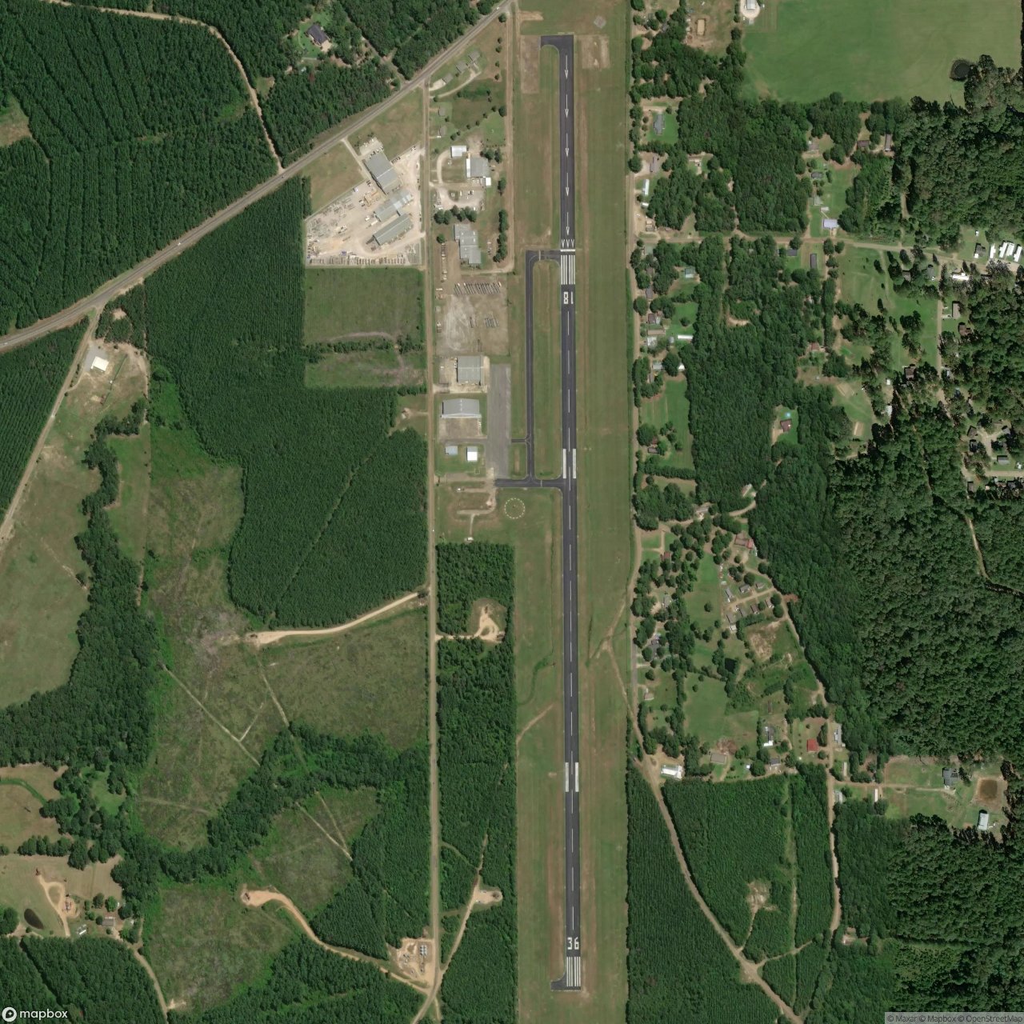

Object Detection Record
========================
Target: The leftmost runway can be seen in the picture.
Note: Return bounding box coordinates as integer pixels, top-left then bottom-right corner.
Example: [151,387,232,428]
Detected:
[541,35,581,990]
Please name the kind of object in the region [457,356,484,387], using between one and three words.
hangar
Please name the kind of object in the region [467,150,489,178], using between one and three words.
building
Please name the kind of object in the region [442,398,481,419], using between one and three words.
hangar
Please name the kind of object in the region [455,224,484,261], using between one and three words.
building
